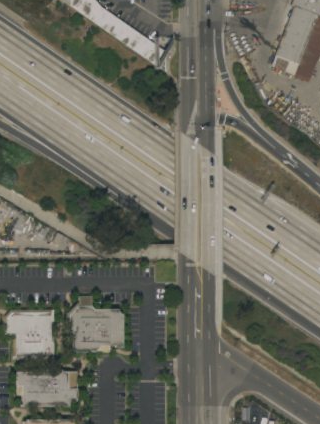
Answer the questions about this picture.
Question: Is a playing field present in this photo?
No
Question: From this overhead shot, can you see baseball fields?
No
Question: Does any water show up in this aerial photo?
No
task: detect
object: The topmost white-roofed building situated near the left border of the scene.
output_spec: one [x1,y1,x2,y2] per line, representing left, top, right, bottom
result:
[6,310,54,358]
